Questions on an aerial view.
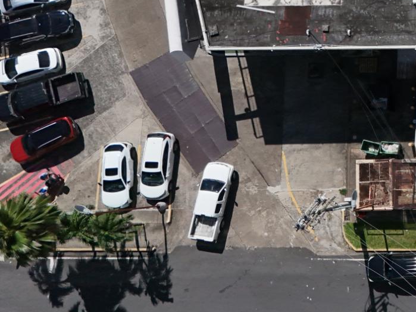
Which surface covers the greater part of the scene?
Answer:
paved ground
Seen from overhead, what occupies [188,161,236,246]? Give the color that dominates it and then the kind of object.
white truck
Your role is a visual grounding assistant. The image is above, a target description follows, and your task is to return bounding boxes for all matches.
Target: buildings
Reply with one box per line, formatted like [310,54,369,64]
[165,0,416,64]
[356,161,416,208]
